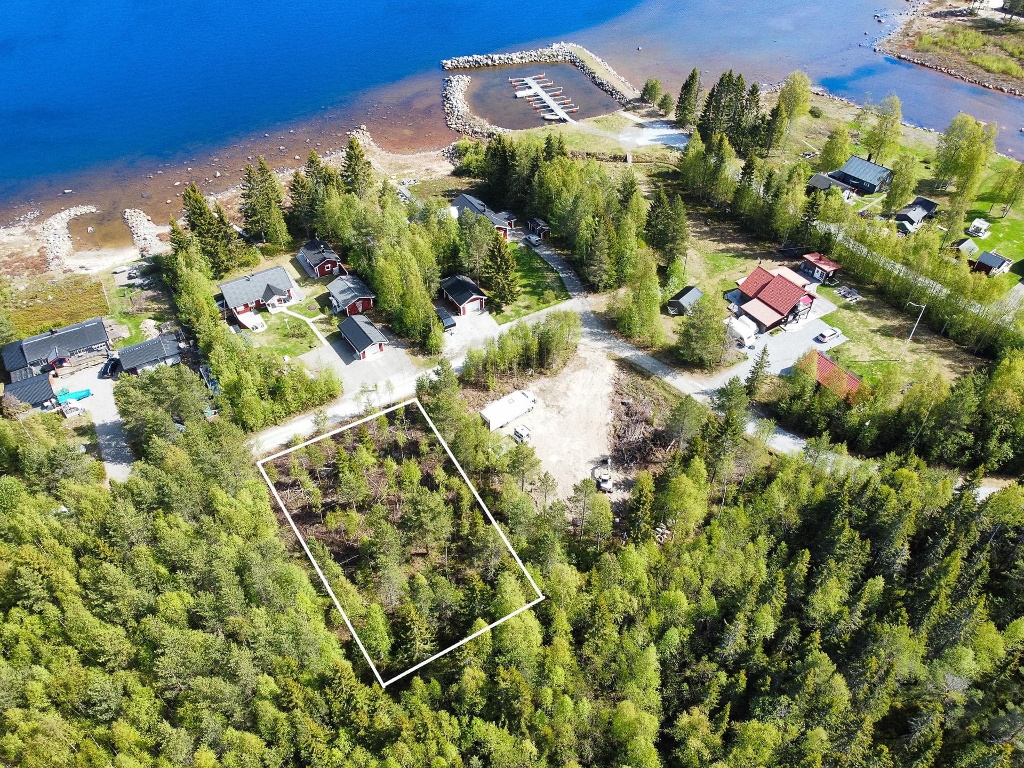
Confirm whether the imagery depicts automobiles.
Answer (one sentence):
Yes, an automobile appears in the view.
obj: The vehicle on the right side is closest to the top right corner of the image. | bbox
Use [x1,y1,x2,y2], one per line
[817,326,845,344]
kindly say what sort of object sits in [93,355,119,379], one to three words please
car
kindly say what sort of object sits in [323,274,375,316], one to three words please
house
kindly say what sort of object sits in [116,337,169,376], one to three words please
building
